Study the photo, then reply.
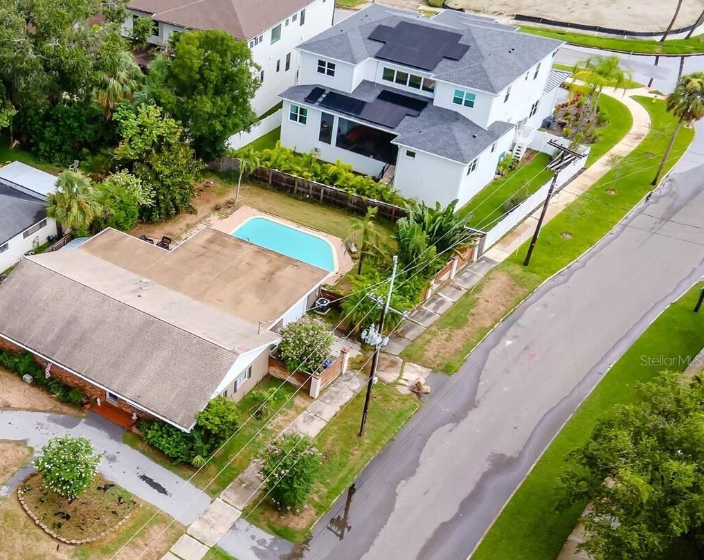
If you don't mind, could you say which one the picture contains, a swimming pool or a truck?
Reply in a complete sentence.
Looking from above, you can make out a swimming pool.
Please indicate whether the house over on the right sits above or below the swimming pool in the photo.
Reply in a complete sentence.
From this view, the house over on the right can be seen above the swimming pool.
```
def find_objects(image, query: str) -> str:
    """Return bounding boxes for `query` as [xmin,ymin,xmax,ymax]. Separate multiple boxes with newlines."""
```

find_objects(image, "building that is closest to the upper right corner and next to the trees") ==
[278,5,572,208]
